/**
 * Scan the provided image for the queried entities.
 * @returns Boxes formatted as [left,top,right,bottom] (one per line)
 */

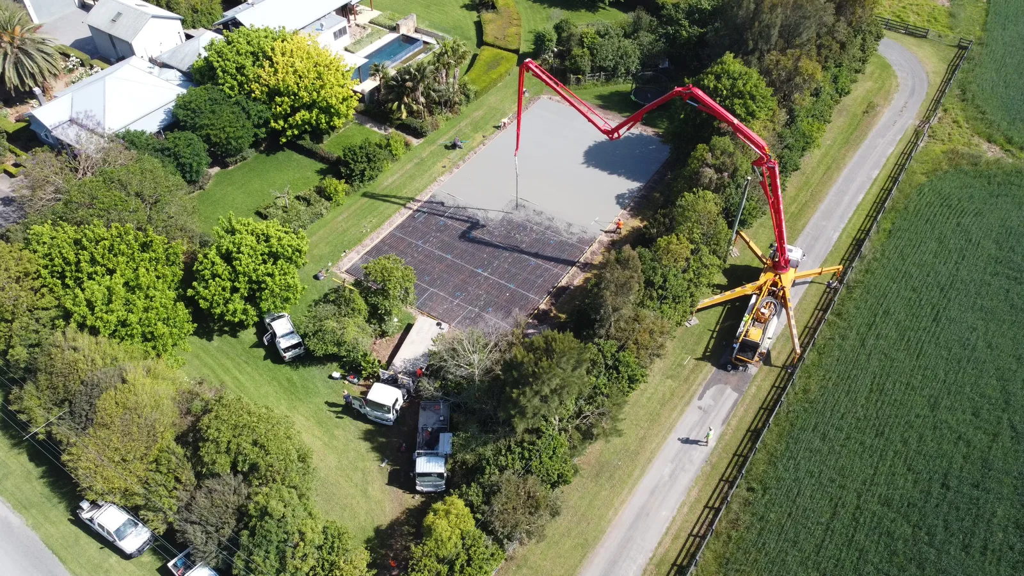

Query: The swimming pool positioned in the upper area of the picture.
[347,30,439,84]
